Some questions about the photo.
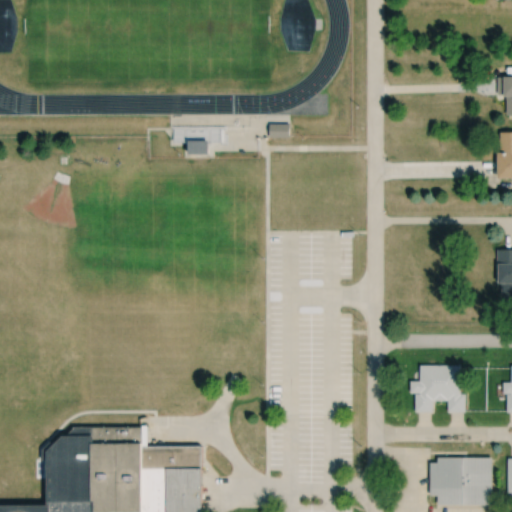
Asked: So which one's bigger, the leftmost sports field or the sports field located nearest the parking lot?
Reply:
the sports field located nearest the parking lot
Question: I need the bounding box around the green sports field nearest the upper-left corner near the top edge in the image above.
[24,0,279,92]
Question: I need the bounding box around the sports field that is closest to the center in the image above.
[62,170,262,316]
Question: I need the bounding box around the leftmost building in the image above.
[0,424,202,512]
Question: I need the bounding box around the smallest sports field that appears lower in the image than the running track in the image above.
[24,172,78,228]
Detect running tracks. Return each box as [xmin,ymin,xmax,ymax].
[0,0,351,116]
